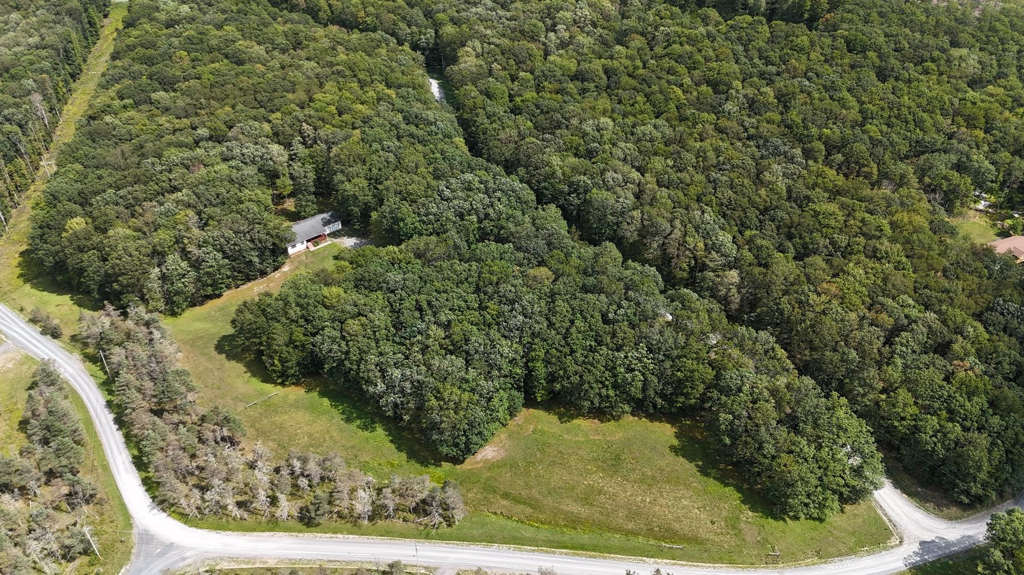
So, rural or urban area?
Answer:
rural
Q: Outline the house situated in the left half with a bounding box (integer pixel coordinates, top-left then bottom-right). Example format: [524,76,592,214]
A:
[283,212,343,256]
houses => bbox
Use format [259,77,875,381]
[978,233,1024,266]
[283,212,343,256]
